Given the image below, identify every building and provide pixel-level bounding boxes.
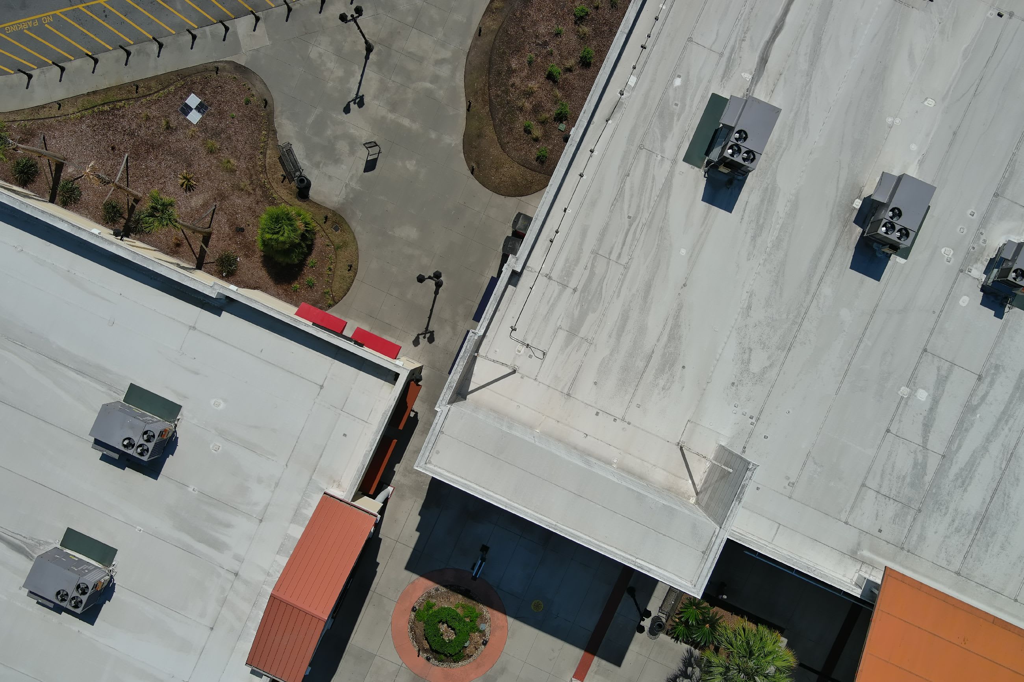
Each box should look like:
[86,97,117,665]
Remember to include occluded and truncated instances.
[0,179,423,682]
[412,0,1024,628]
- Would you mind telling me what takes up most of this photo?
buildings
